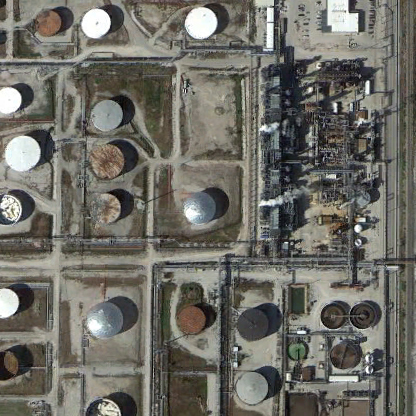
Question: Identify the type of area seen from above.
industrial area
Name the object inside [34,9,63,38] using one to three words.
storage tank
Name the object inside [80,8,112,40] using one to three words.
storage tank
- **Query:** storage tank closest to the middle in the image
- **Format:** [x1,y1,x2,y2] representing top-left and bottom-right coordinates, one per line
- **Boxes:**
[182,191,217,226]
